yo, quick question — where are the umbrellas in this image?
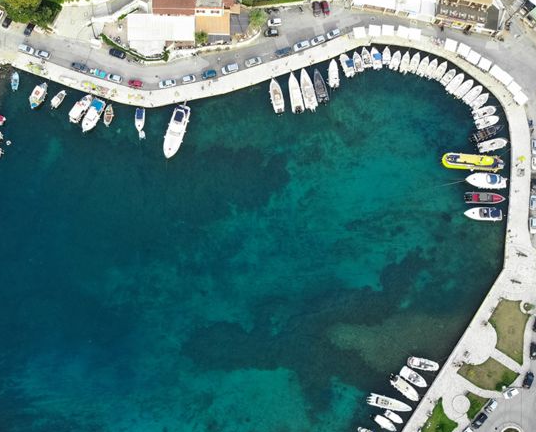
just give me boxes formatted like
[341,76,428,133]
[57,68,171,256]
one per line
[488,63,514,87]
[396,24,409,37]
[456,43,470,57]
[444,37,457,51]
[477,57,491,71]
[466,50,481,64]
[352,26,365,38]
[409,27,421,40]
[513,90,529,105]
[506,80,521,95]
[369,23,381,36]
[382,23,394,35]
